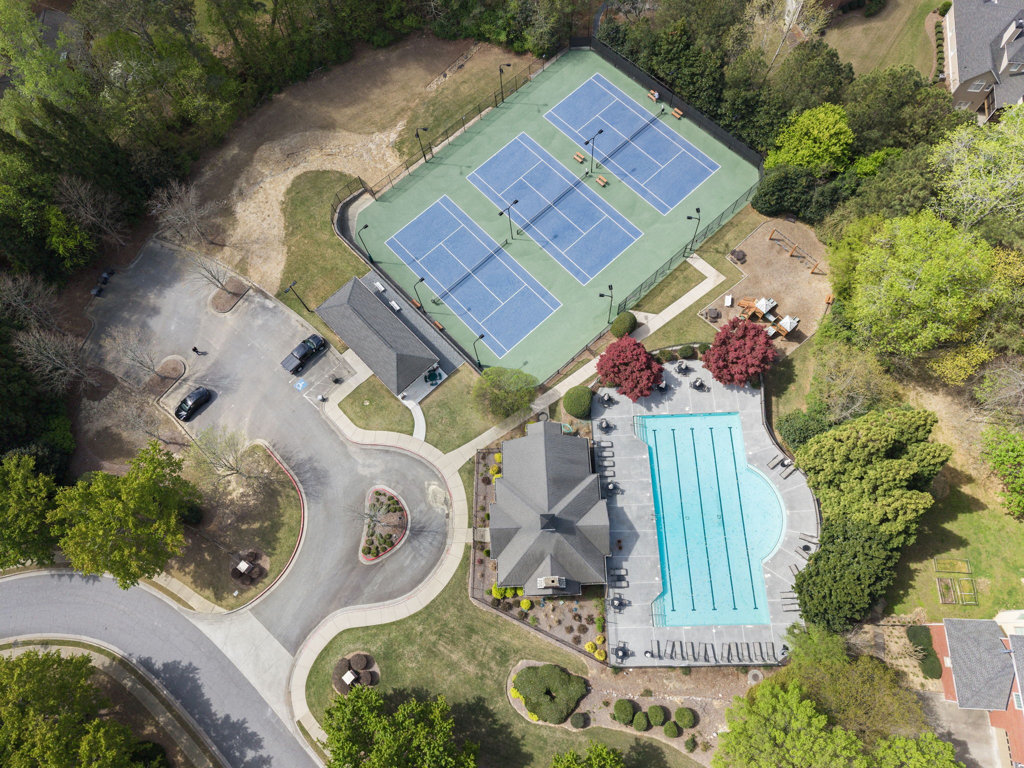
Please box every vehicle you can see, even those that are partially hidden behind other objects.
[176,386,210,419]
[279,335,326,373]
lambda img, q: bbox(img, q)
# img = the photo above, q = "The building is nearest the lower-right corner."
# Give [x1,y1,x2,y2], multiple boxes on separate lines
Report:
[902,608,1024,768]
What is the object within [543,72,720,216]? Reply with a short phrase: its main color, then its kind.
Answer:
blue tennis court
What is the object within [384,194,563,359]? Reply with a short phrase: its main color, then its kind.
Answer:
blue tennis court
